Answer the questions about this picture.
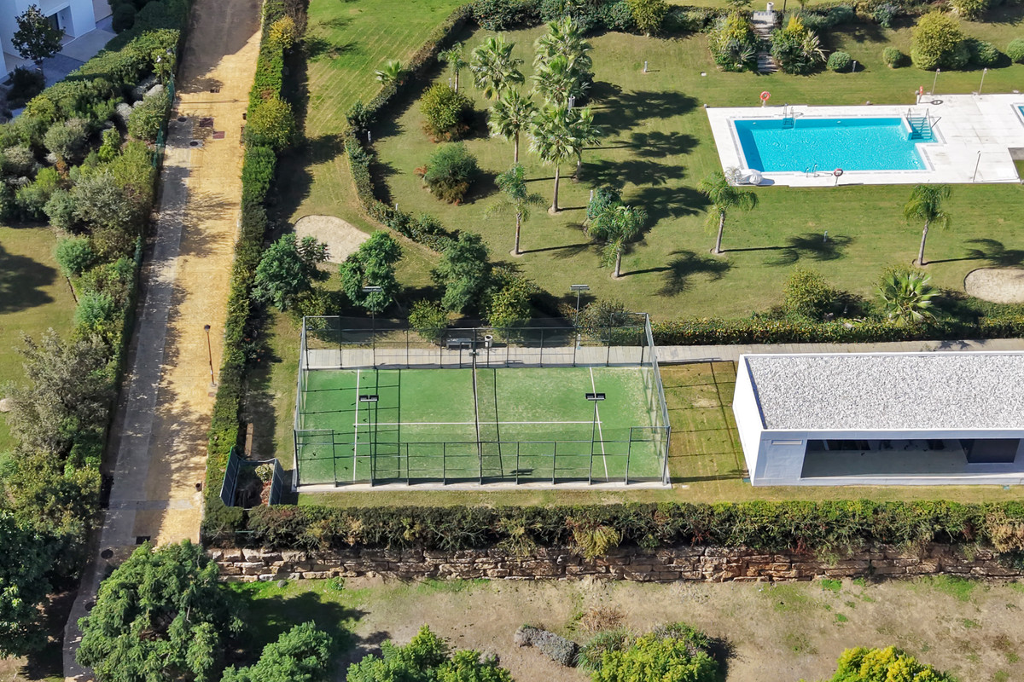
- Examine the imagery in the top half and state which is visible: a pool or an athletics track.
pool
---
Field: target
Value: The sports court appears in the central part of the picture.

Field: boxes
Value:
[291,313,671,493]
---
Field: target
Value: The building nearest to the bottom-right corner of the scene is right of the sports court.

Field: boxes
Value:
[732,351,1024,486]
